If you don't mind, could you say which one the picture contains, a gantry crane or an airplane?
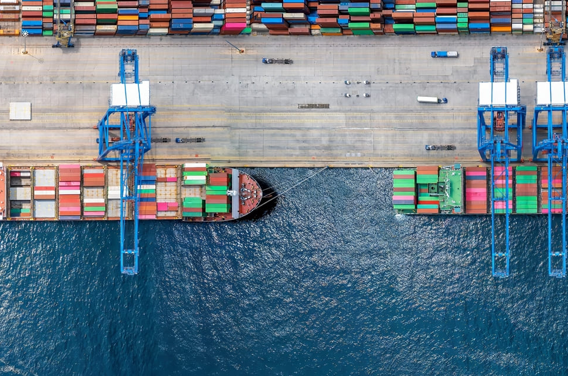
gantry crane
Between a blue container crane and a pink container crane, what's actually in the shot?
blue container crane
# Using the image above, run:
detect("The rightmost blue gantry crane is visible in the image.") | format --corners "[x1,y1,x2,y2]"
[516,49,568,282]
